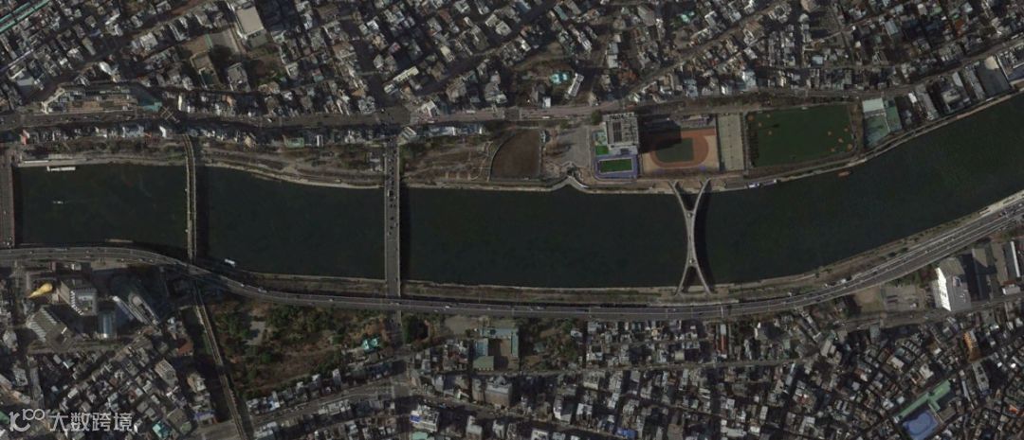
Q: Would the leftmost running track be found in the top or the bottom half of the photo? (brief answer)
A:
top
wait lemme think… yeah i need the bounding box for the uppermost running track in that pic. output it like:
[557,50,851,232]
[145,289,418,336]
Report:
[638,114,719,179]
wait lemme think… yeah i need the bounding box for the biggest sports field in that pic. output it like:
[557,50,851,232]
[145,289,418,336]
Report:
[492,130,541,179]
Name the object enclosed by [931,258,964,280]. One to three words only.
building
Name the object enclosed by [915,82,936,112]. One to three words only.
shed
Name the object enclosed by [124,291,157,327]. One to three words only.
building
